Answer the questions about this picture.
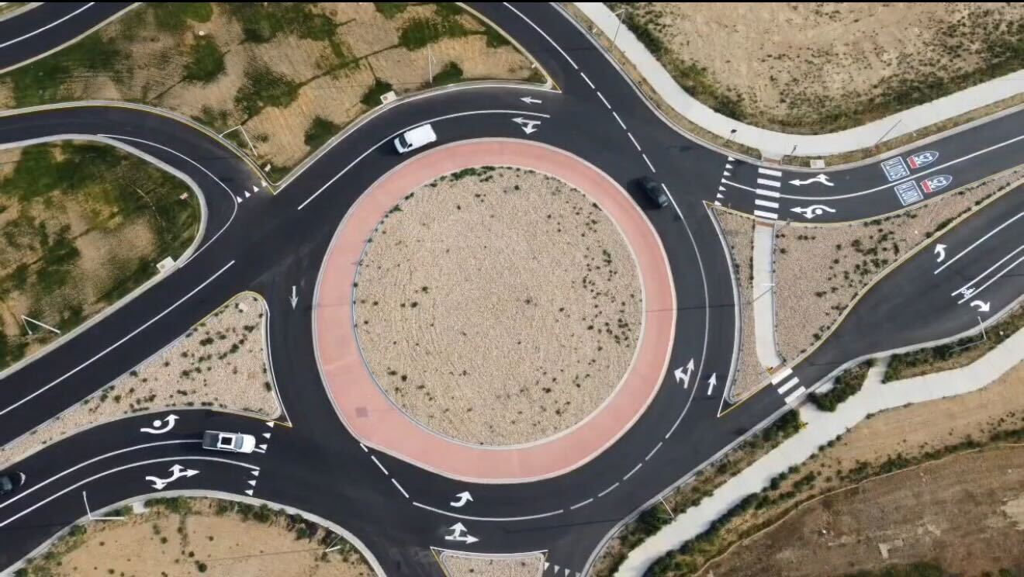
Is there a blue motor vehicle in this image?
No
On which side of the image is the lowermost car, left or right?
left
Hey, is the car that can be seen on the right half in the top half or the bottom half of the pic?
top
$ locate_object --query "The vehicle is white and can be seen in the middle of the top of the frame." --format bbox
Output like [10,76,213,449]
[396,124,437,155]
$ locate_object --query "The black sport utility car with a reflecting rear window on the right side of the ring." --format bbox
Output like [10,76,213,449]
[636,175,670,210]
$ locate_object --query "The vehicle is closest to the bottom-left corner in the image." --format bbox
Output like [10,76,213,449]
[0,470,31,502]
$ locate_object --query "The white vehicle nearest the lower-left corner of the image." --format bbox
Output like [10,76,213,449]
[202,430,259,453]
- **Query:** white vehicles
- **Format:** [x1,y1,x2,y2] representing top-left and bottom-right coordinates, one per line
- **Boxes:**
[202,430,259,453]
[396,124,437,155]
